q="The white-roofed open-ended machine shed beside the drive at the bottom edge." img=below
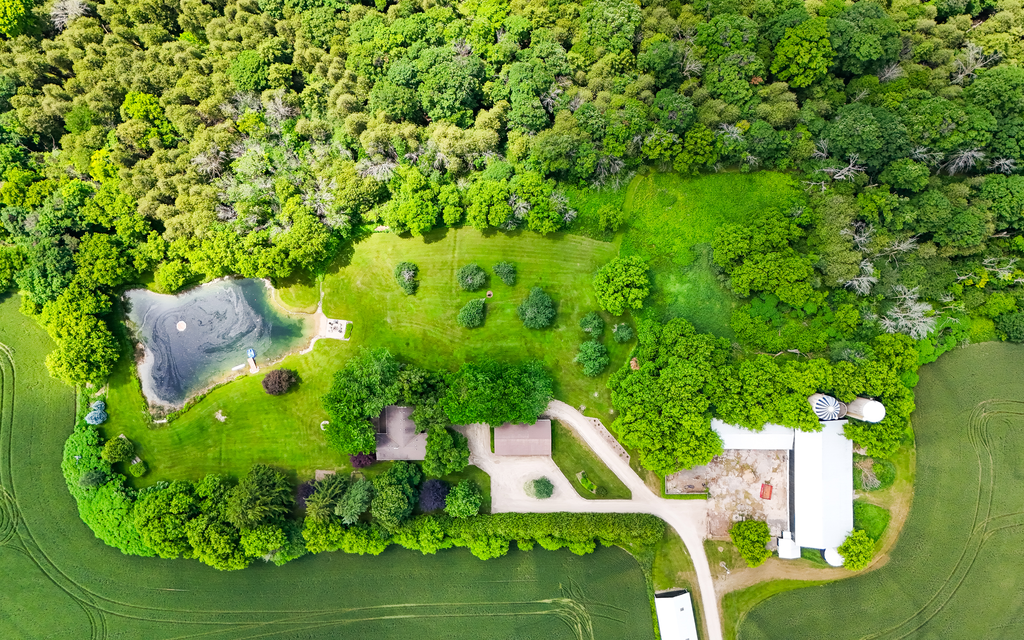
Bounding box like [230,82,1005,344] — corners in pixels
[653,587,698,640]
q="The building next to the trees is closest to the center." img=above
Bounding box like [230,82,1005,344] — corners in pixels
[494,419,551,456]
